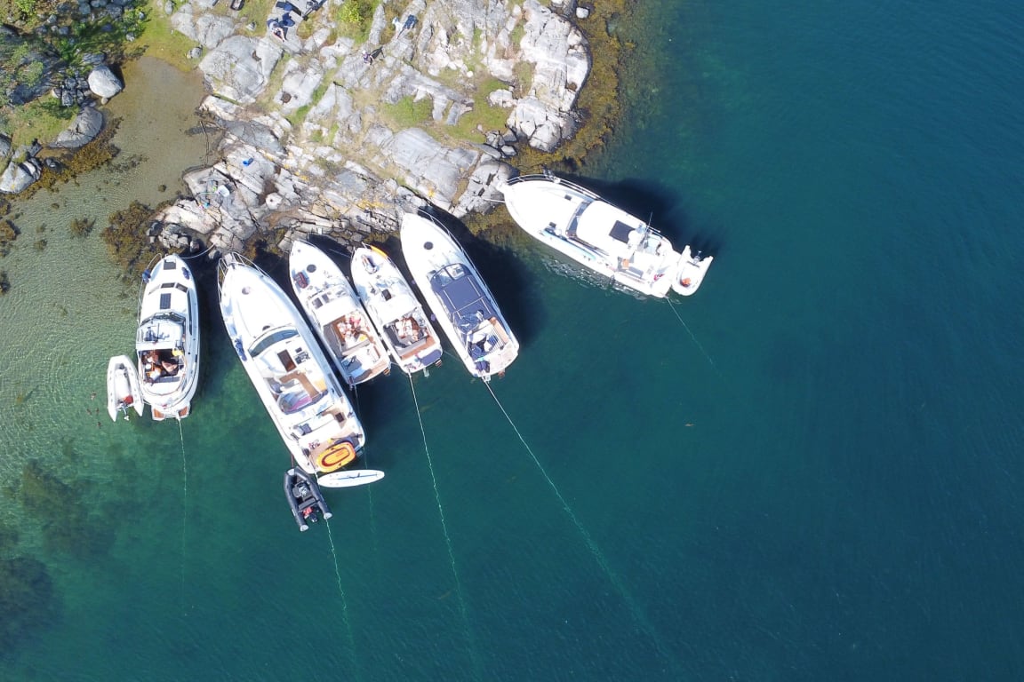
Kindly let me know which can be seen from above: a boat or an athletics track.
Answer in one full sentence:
This aerial view contains a boat.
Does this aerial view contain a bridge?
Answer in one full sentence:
No, there isn't any bridge down there.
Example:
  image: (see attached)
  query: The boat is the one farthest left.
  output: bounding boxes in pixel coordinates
[107,355,144,417]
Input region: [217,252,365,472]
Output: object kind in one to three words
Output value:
boat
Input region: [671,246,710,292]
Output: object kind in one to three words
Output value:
boat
